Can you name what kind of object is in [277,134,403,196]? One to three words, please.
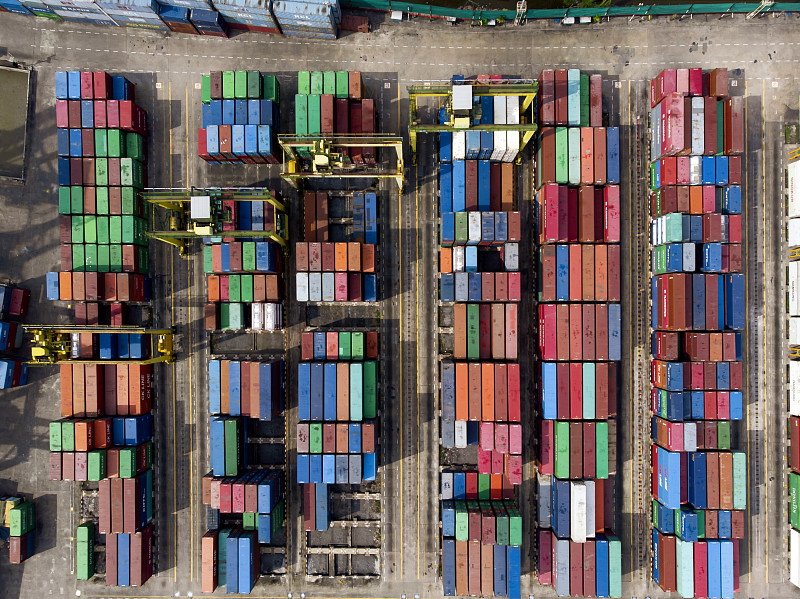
container crane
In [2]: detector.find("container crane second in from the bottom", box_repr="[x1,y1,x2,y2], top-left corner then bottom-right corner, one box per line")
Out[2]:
[137,187,287,258]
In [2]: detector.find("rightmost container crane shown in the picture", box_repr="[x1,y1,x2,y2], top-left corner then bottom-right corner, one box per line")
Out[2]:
[407,80,539,169]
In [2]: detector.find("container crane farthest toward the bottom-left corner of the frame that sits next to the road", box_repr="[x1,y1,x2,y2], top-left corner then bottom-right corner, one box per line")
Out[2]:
[20,319,173,366]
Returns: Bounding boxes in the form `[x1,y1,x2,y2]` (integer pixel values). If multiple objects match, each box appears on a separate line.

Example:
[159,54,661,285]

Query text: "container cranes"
[277,134,403,196]
[407,80,539,169]
[20,319,173,366]
[137,187,287,258]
